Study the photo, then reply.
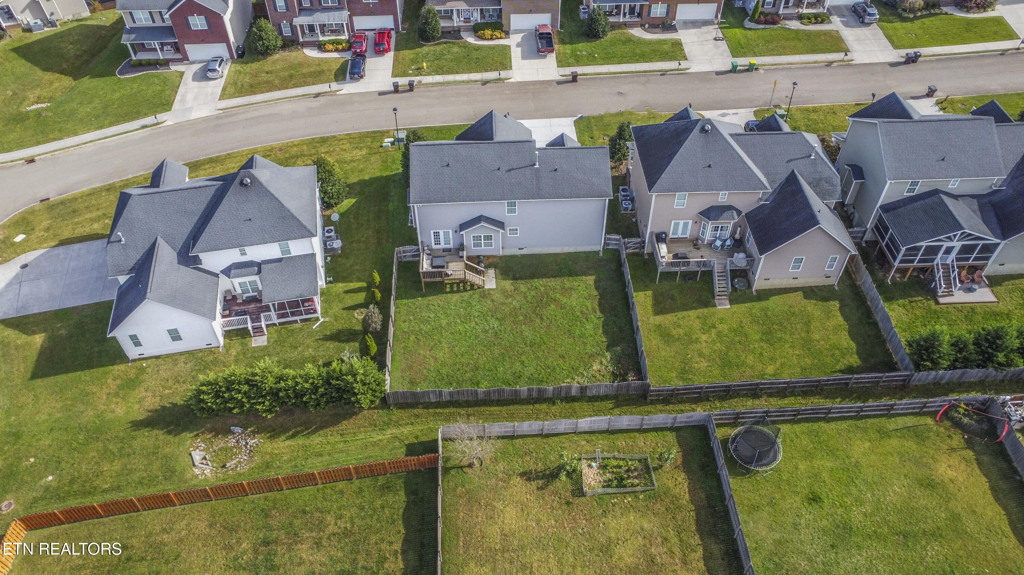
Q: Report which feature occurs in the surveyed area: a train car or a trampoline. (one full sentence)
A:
The one in the frame is a trampoline.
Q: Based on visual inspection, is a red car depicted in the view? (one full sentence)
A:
Yes, I can see a red car in this picture.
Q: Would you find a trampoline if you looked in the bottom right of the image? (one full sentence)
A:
Yes, in the bottom right of the image there is a trampoline.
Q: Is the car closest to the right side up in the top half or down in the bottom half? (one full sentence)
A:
The top half of the photo is where the car closest to the right side is.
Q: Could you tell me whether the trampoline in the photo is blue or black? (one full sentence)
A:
The trampoline looks black in the image.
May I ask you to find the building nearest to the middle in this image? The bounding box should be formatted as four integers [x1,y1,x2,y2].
[403,106,613,291]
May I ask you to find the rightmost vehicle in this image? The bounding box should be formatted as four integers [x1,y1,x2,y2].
[853,0,880,21]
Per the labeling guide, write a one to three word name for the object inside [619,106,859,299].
house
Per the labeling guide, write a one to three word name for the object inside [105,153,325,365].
house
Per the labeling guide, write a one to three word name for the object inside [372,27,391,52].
car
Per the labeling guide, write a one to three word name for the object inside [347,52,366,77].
car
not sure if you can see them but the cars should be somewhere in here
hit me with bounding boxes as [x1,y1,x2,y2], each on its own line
[203,52,228,76]
[372,27,391,52]
[853,0,880,21]
[350,28,367,52]
[347,52,366,77]
[740,113,762,131]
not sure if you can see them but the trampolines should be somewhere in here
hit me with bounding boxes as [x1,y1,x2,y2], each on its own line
[729,414,790,476]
